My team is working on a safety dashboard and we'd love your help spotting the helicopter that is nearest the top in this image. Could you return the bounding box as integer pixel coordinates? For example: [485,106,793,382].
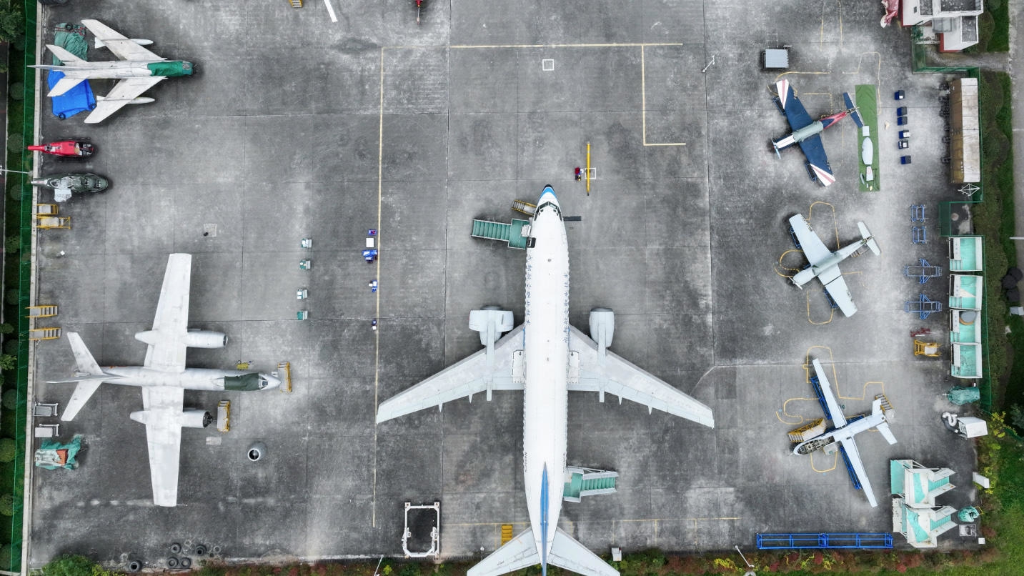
[26,138,95,163]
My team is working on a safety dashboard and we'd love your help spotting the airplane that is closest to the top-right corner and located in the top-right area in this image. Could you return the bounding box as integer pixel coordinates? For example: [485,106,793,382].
[772,80,863,185]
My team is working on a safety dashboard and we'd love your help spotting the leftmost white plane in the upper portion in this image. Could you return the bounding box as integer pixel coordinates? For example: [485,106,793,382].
[27,19,197,123]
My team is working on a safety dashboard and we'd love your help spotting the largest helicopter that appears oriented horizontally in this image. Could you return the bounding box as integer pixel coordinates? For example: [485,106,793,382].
[30,173,110,202]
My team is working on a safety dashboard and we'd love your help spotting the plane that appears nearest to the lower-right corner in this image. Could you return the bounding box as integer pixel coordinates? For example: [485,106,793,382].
[790,358,897,507]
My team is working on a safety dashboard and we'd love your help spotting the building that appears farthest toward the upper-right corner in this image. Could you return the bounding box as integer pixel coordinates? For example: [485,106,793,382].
[899,0,982,51]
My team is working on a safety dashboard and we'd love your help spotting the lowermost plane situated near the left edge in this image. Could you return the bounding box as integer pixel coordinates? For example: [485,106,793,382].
[46,254,281,507]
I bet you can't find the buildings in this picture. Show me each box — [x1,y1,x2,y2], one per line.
[950,77,980,184]
[899,0,982,51]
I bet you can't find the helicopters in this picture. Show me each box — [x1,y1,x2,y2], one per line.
[26,138,95,163]
[30,173,110,202]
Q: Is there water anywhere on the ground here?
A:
No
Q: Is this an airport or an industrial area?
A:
airport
